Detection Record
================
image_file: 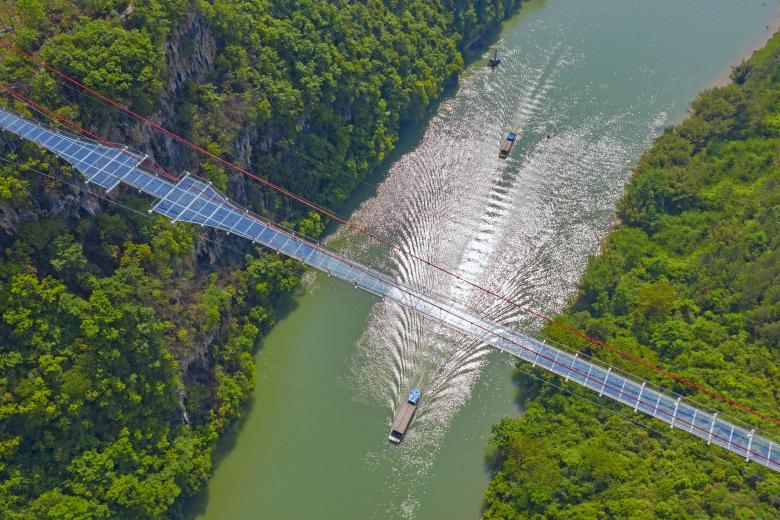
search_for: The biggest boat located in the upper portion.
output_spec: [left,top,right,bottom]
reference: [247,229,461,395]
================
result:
[499,130,516,158]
